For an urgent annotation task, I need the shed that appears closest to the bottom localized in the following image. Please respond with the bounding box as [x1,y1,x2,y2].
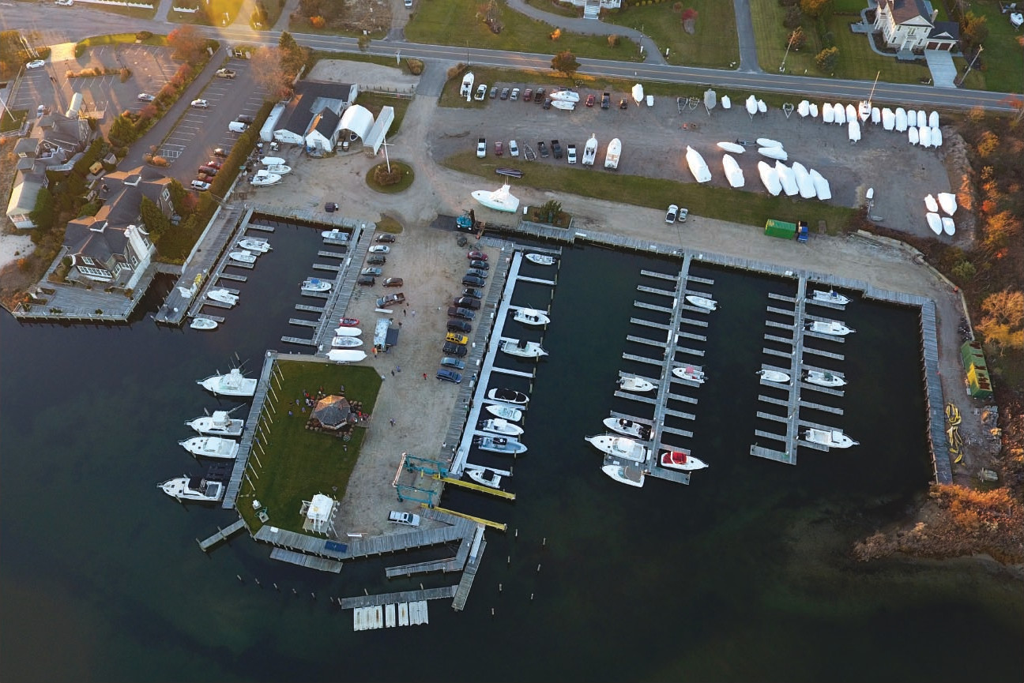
[298,486,338,533]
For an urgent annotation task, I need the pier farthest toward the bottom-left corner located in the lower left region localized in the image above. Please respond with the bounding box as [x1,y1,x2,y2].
[199,519,245,551]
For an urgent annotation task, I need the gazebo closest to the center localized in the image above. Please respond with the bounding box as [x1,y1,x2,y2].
[313,394,346,429]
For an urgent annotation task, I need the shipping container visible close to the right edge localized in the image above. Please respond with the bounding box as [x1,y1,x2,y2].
[961,342,993,399]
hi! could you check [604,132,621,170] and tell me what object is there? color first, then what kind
white boat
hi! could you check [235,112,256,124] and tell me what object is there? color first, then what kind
gray vehicle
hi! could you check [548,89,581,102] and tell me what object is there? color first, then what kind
white boat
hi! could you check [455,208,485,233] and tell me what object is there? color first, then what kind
blue work vehicle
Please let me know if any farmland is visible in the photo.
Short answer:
No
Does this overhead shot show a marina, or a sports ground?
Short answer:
marina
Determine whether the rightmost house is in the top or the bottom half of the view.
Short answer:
top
